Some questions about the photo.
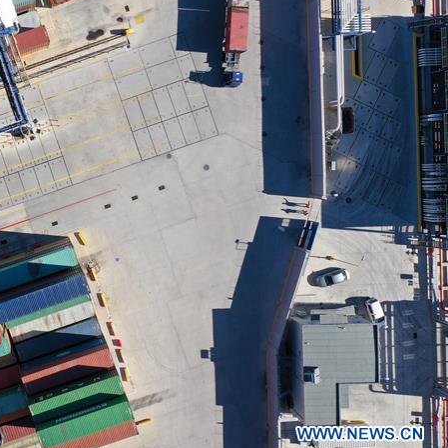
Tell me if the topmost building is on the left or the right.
right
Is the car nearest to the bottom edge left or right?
right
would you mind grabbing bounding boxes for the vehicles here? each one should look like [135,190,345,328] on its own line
[361,295,387,326]
[317,267,350,285]
[220,40,244,90]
